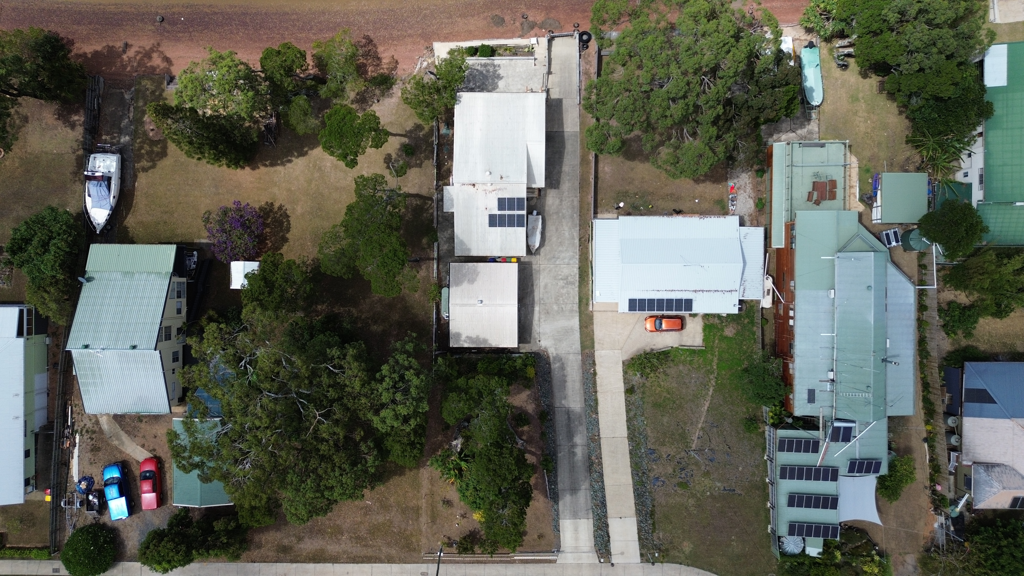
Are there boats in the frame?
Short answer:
Yes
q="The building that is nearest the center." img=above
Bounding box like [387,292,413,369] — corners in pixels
[449,261,519,349]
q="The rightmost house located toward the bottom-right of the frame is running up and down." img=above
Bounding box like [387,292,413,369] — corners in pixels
[957,360,1024,510]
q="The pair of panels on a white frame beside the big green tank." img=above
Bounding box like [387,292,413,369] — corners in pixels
[883,228,901,247]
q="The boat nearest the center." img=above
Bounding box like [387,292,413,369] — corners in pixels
[526,207,543,262]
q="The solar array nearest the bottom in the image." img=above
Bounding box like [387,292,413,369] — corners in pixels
[786,520,840,538]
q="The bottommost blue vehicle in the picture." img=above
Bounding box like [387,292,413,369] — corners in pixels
[102,460,133,519]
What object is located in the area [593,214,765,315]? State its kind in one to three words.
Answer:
house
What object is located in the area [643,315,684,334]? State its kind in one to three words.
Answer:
car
